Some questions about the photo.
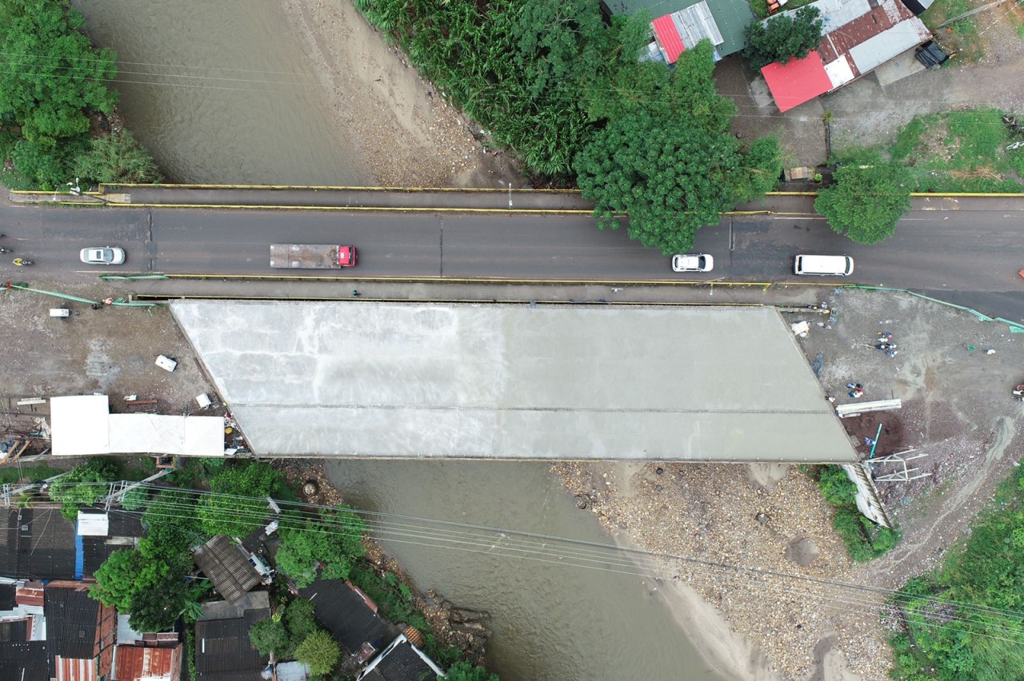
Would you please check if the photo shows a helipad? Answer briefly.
No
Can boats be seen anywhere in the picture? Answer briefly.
No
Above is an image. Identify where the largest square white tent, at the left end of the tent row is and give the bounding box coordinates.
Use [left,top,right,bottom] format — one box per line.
[51,394,122,456]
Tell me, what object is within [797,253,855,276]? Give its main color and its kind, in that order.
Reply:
white vehicle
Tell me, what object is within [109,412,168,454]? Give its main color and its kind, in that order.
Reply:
white tent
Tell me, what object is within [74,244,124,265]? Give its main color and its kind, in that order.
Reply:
white car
